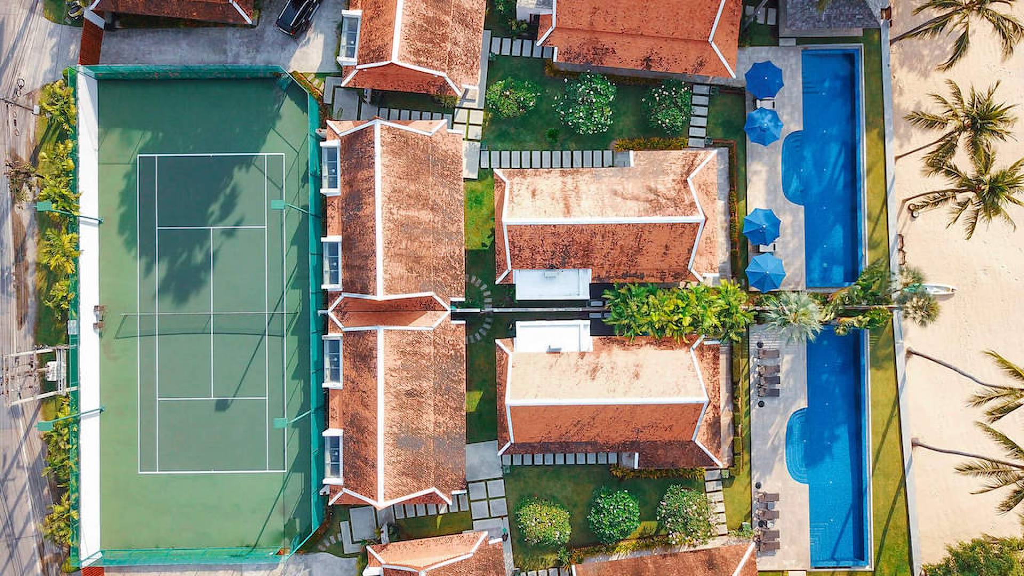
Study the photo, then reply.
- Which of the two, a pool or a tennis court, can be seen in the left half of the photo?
tennis court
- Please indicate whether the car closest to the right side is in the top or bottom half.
top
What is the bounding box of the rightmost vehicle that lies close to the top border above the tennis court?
[277,0,325,41]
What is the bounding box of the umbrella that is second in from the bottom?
[743,209,779,244]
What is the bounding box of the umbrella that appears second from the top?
[742,108,782,147]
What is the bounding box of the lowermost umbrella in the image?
[743,252,784,293]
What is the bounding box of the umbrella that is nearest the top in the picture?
[744,63,782,100]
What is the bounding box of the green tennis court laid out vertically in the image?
[100,79,324,551]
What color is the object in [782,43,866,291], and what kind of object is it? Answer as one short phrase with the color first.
blue swimming pool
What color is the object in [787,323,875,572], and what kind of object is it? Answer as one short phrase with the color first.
blue swimming pool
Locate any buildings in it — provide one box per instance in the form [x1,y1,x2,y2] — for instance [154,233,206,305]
[339,0,484,98]
[321,118,466,311]
[571,539,760,576]
[323,310,468,507]
[494,320,725,470]
[779,0,883,38]
[493,148,718,300]
[517,0,742,79]
[363,530,505,576]
[86,0,257,26]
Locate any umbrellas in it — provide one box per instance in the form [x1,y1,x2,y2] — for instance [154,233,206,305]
[743,252,784,293]
[744,63,782,100]
[743,209,779,244]
[742,108,782,147]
